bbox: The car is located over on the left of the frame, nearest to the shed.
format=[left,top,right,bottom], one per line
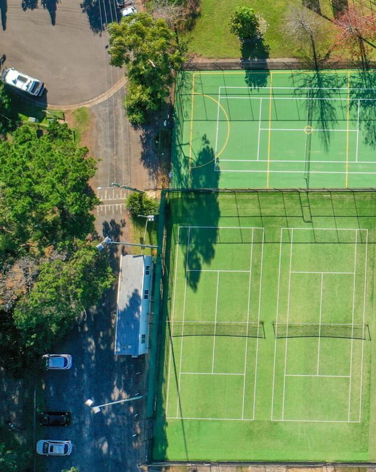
[44,353,73,371]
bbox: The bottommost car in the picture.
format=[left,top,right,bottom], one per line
[33,439,71,459]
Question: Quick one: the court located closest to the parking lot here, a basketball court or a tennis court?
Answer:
tennis court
